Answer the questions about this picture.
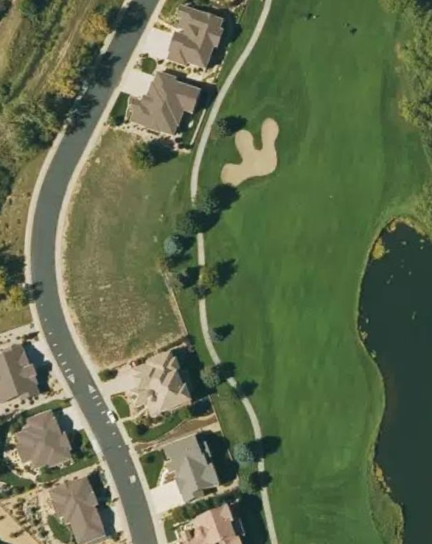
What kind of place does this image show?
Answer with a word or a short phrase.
golf course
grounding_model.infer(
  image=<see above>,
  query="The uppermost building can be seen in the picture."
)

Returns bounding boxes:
[164,3,226,73]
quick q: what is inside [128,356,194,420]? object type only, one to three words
house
